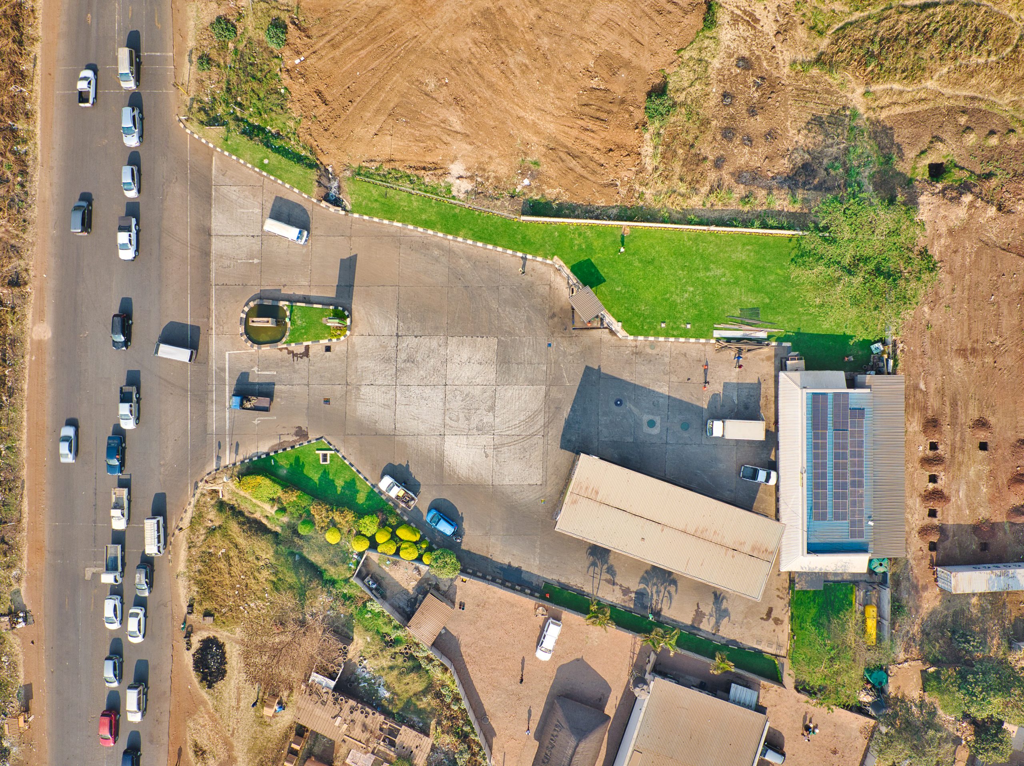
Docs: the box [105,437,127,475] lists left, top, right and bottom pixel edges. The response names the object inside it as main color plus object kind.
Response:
blue car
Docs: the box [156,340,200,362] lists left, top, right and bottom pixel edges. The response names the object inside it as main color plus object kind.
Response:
white vehicle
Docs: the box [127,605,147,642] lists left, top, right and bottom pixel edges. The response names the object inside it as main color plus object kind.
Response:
white car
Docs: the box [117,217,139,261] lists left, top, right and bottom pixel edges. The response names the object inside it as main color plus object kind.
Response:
white truck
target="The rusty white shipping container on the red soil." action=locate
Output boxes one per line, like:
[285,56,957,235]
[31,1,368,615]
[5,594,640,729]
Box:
[936,561,1024,594]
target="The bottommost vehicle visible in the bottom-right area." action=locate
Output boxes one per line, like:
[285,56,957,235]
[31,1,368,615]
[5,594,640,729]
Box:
[758,740,785,762]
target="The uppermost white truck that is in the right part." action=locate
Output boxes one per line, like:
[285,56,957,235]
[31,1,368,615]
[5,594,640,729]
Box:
[705,414,769,440]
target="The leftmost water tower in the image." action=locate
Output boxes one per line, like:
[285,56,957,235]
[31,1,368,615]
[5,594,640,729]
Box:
[619,654,651,700]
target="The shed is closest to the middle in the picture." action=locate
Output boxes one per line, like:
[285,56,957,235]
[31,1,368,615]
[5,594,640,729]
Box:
[569,286,604,323]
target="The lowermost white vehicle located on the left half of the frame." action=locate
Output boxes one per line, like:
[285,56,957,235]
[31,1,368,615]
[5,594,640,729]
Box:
[125,683,147,722]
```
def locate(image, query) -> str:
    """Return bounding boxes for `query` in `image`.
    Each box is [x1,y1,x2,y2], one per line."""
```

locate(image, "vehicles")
[71,200,94,236]
[76,69,98,109]
[117,45,140,90]
[118,386,140,428]
[134,562,154,596]
[156,340,200,362]
[127,605,147,642]
[379,474,419,510]
[736,465,778,486]
[758,740,785,762]
[125,683,147,722]
[537,617,563,660]
[142,516,165,556]
[111,314,133,349]
[425,508,460,538]
[262,217,309,244]
[117,217,139,261]
[110,488,131,529]
[230,391,274,410]
[121,747,142,766]
[121,165,141,198]
[59,426,81,464]
[122,106,144,146]
[99,710,120,746]
[101,543,124,586]
[705,414,769,440]
[103,654,124,687]
[103,595,124,629]
[105,437,127,475]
